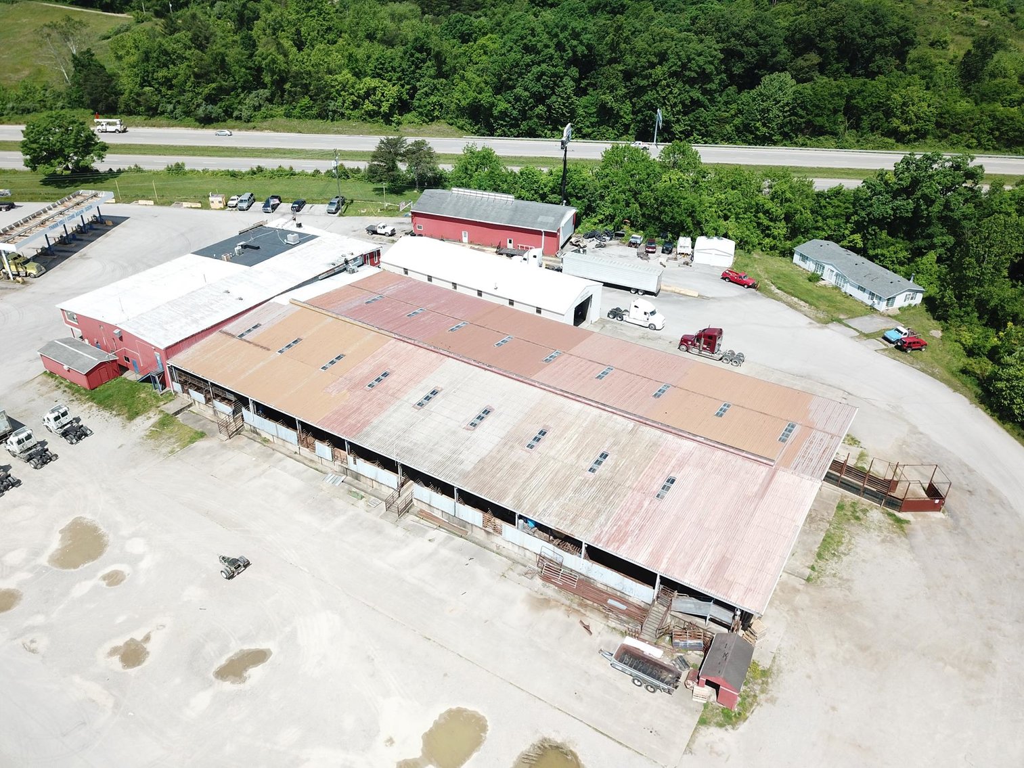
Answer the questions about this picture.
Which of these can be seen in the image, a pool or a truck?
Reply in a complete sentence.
It is a truck that can be seen here.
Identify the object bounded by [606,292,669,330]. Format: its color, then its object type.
white truck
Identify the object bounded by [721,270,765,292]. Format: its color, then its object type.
red truck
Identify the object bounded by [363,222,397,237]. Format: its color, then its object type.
white vehicle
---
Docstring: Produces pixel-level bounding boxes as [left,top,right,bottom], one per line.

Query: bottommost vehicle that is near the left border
[0,464,23,498]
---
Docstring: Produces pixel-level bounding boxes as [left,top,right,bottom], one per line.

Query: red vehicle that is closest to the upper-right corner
[895,334,933,353]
